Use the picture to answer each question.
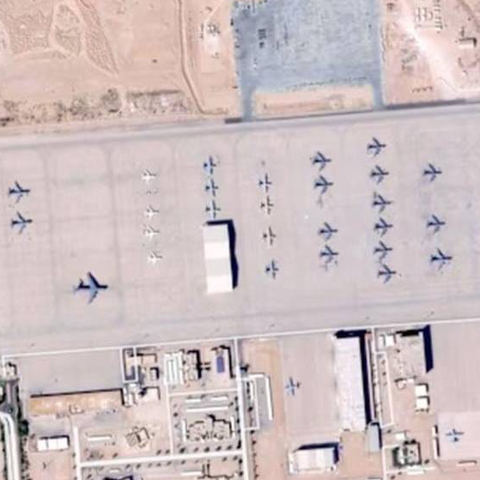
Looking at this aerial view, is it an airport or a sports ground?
airport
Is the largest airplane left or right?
left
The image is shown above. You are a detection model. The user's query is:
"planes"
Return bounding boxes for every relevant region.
[428,249,450,271]
[373,242,390,260]
[443,428,462,442]
[142,172,155,184]
[201,158,215,175]
[318,223,335,241]
[366,139,384,156]
[257,176,271,193]
[369,165,387,184]
[261,229,274,246]
[376,265,394,282]
[5,183,28,203]
[204,202,218,219]
[203,180,216,198]
[145,228,158,239]
[144,207,157,219]
[147,253,160,264]
[422,164,440,183]
[319,246,336,264]
[425,216,443,234]
[73,275,104,304]
[312,176,331,194]
[259,198,272,216]
[9,214,30,234]
[373,218,391,236]
[372,195,390,213]
[310,152,329,171]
